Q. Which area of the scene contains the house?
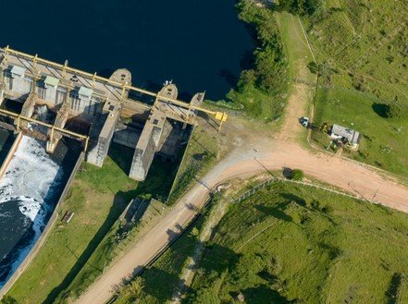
right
